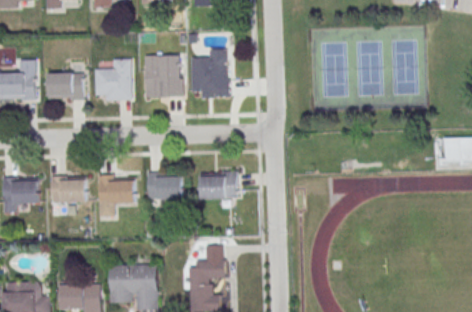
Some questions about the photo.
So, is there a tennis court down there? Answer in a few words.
Yes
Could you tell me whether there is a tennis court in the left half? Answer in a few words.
No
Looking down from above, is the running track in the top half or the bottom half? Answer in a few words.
bottom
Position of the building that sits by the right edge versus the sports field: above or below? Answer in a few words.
above it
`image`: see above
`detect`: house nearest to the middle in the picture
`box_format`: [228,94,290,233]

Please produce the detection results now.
[197,172,240,200]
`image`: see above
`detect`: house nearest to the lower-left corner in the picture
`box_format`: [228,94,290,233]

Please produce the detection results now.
[2,282,52,312]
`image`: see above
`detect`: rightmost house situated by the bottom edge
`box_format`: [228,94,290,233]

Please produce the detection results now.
[190,244,227,312]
